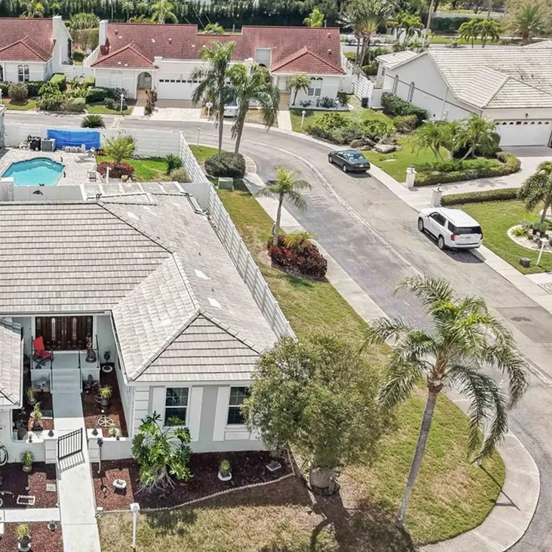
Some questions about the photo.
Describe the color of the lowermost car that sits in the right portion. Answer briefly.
white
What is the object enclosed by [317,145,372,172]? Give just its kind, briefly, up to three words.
car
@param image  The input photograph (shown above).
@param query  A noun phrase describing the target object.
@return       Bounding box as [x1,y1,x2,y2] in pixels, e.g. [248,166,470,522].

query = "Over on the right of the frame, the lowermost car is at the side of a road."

[418,208,483,251]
